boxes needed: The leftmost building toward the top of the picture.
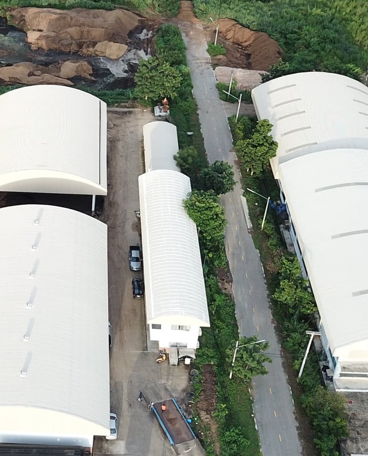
[0,80,108,214]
